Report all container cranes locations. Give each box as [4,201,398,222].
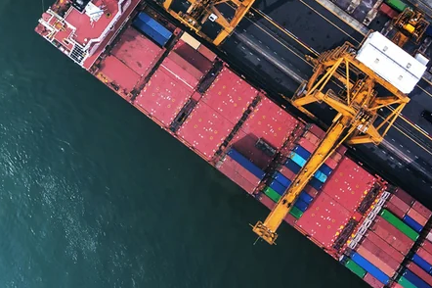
[158,0,254,50]
[251,10,430,244]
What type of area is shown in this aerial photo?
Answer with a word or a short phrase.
port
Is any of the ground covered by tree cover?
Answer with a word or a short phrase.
No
